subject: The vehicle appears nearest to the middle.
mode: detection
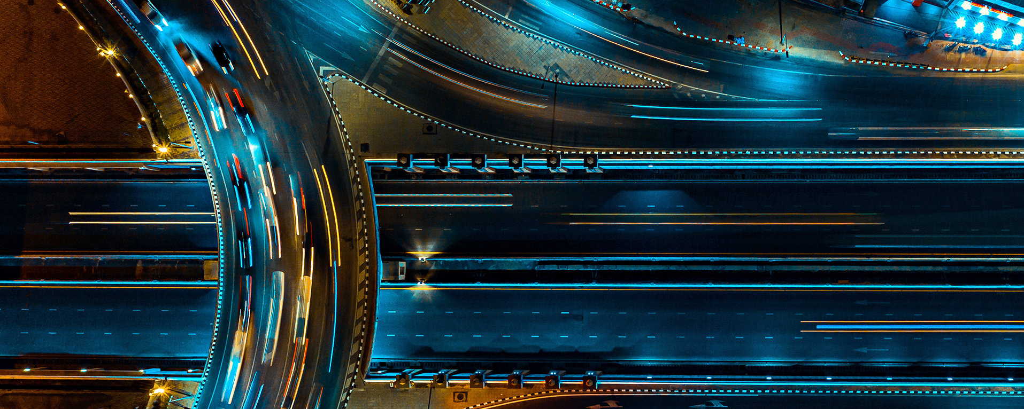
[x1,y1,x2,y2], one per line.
[406,193,439,207]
